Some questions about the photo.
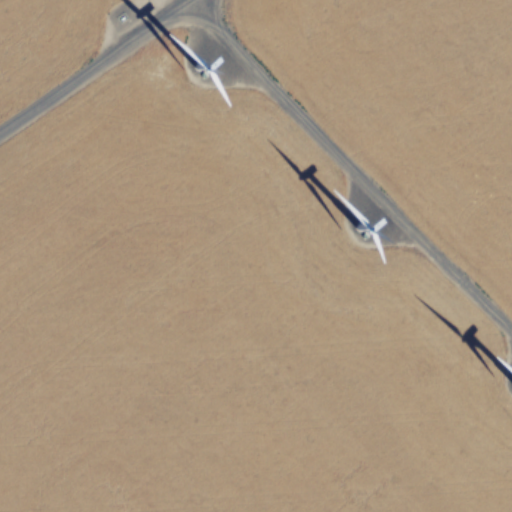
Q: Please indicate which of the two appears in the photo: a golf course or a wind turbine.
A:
wind turbine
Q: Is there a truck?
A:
No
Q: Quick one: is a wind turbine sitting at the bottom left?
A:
No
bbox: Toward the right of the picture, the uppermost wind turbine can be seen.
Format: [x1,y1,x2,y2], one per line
[340,192,390,264]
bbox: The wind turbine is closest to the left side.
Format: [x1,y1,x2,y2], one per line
[177,30,228,103]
